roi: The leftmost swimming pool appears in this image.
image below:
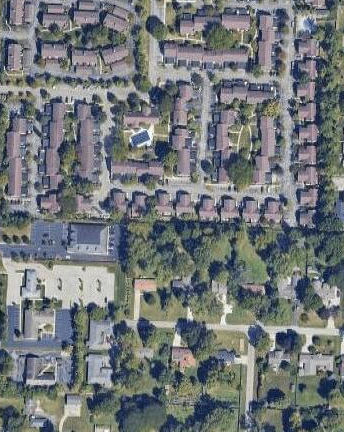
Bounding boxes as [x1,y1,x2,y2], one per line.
[129,128,151,147]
